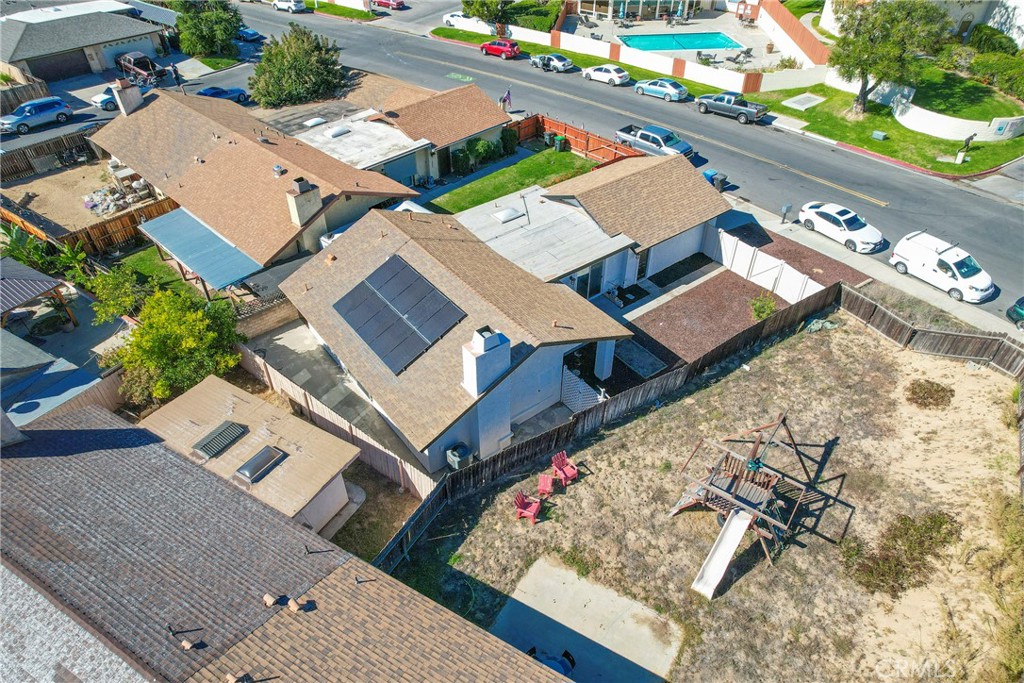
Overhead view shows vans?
Yes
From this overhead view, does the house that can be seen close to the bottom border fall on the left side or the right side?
left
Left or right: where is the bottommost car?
right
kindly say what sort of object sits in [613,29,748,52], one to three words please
swimming pool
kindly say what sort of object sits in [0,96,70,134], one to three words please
car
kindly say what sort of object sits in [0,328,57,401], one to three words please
house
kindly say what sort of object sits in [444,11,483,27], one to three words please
car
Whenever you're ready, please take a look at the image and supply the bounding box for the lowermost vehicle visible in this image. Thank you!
[996,294,1024,334]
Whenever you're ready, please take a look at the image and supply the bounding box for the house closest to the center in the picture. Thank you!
[278,155,733,474]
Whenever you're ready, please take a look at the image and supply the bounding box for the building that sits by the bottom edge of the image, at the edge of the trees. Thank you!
[0,411,581,683]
